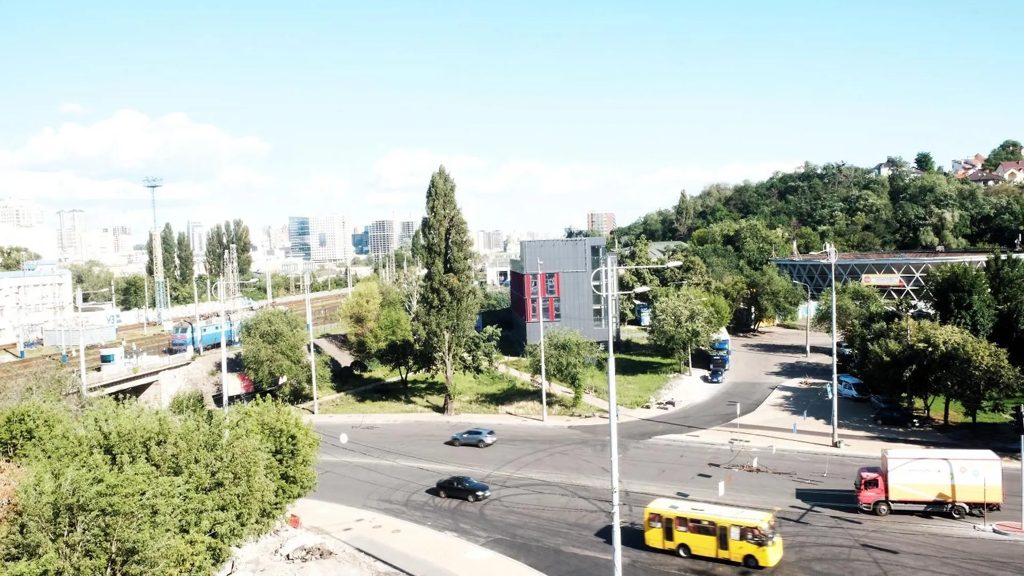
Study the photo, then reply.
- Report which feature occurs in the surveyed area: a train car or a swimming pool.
train car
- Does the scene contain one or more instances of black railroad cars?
No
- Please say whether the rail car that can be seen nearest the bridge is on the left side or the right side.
left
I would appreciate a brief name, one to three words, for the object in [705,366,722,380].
car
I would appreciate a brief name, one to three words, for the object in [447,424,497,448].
car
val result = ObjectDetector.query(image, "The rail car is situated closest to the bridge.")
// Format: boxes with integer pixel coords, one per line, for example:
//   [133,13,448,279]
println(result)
[169,313,243,349]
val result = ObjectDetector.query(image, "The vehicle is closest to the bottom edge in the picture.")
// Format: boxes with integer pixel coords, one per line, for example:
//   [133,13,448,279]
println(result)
[647,500,781,567]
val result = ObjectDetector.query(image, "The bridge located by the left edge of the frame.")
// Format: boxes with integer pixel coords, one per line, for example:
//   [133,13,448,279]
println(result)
[0,356,194,406]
